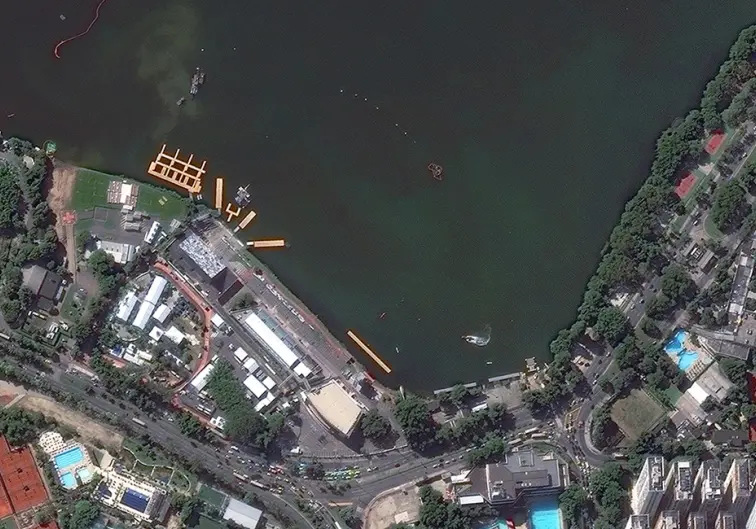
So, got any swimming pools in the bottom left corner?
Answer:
Yes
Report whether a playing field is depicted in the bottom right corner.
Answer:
Yes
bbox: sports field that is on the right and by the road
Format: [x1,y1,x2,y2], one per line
[612,387,667,440]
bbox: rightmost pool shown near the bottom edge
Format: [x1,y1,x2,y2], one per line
[530,492,563,529]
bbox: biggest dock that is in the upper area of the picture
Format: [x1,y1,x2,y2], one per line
[147,145,207,193]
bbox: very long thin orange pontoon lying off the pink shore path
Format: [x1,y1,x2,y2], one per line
[347,331,391,374]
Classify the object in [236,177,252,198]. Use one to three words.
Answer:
ship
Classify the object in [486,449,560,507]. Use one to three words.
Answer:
building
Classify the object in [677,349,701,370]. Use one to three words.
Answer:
swimming pool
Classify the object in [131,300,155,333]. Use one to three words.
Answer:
tent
